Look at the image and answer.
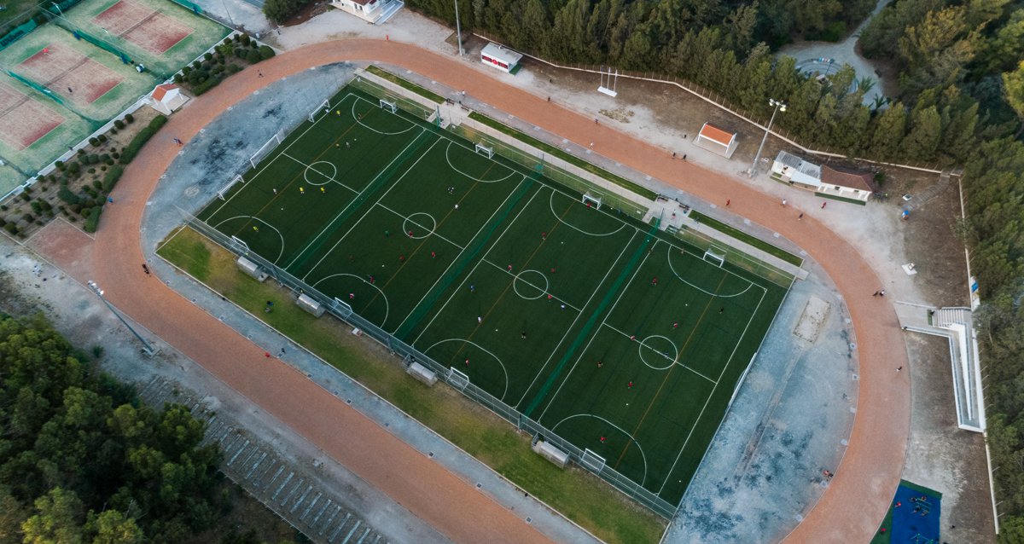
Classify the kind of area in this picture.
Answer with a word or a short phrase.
sports ground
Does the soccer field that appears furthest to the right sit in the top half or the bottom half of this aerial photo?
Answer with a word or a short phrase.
bottom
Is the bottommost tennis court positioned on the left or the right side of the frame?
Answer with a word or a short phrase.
left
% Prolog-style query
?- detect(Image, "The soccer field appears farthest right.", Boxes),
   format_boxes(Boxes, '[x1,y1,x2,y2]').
[538,239,765,495]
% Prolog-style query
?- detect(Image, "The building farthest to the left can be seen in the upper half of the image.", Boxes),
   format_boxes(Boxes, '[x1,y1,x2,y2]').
[147,81,190,116]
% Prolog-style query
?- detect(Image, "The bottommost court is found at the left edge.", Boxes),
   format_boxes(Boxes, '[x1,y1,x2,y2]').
[0,159,27,196]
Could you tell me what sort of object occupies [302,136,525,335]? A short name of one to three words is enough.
soccer field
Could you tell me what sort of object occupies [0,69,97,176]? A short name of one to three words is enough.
tennis court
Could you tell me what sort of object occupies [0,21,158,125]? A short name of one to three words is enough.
tennis court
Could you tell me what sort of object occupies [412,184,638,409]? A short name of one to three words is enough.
soccer field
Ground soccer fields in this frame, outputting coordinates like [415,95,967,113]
[205,93,425,270]
[412,184,638,409]
[538,239,765,495]
[302,136,525,335]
